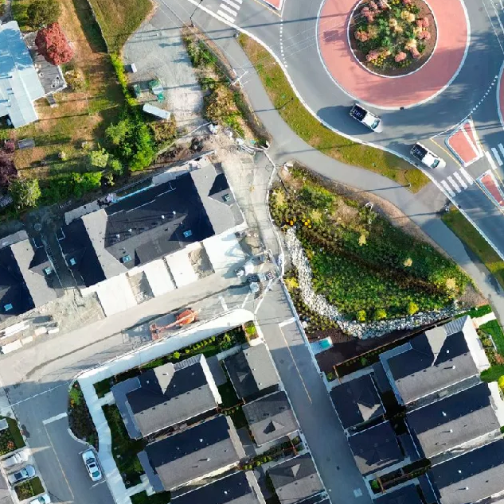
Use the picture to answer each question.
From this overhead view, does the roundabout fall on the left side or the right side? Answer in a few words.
right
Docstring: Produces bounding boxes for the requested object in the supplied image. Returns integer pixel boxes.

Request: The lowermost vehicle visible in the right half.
[409,141,445,169]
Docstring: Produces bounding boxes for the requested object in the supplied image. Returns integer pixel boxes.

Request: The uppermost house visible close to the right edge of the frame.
[377,313,491,405]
